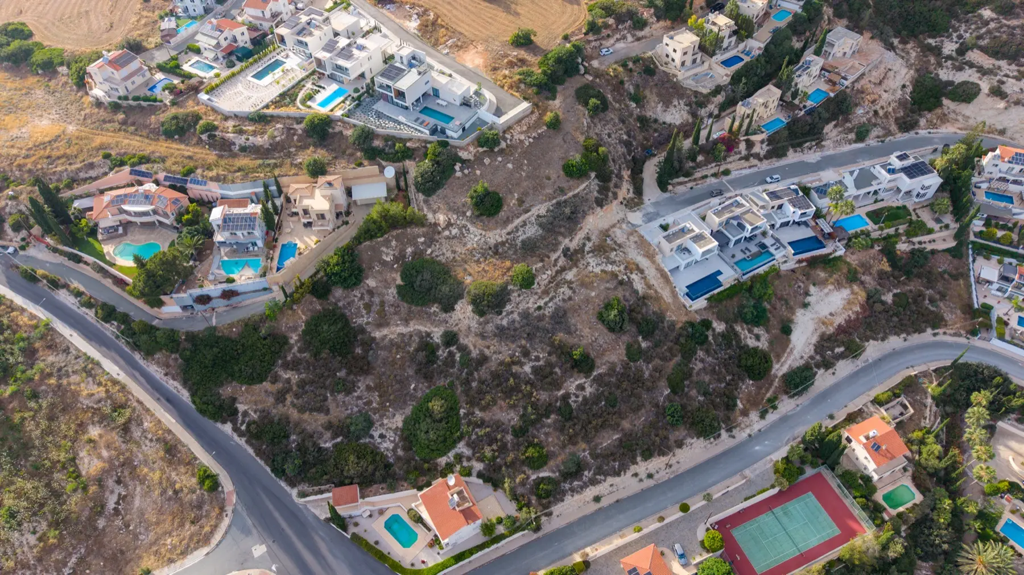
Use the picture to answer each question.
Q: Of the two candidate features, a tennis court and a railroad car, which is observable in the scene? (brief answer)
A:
tennis court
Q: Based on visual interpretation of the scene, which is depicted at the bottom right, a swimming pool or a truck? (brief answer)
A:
swimming pool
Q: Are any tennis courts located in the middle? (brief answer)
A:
No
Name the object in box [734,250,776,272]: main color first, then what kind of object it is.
blue swimming pool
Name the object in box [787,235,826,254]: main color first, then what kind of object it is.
blue swimming pool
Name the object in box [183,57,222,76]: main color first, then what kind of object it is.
white swimming pool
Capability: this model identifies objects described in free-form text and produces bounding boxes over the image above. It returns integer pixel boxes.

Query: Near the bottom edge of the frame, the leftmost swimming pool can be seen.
[383,513,419,550]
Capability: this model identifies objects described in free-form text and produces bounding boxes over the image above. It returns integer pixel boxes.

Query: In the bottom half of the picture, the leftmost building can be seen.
[332,484,362,512]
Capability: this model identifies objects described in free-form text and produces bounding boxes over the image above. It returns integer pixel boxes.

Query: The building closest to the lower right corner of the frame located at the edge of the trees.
[845,413,911,480]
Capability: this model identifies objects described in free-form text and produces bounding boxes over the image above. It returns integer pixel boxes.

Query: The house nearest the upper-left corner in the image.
[85,46,154,95]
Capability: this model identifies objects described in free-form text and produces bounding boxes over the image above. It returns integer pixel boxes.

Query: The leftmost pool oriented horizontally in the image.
[110,240,165,263]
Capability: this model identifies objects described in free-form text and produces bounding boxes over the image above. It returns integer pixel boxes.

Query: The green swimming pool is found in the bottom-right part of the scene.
[882,483,917,511]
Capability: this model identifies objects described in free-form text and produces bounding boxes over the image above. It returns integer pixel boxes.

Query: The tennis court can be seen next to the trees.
[731,492,841,574]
